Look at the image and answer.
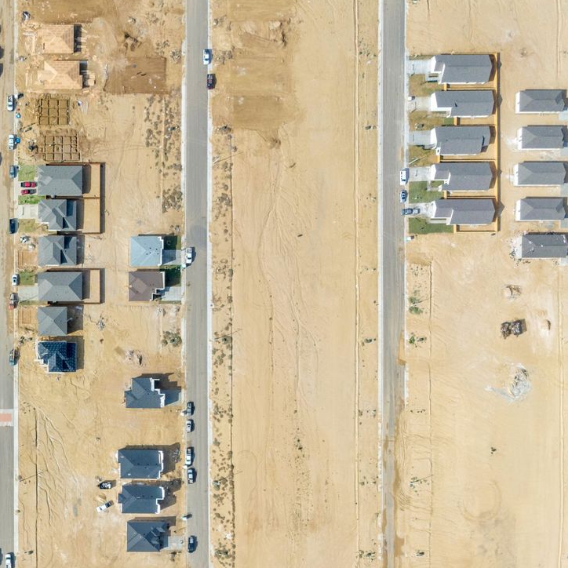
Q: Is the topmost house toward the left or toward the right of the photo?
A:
left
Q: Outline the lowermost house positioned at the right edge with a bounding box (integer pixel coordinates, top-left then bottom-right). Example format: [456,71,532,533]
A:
[517,233,568,258]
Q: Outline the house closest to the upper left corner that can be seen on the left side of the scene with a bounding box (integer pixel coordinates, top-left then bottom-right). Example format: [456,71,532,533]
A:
[39,24,75,54]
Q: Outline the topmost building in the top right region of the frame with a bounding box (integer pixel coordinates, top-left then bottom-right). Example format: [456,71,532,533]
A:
[429,54,496,84]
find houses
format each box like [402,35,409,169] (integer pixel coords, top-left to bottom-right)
[125,376,164,407]
[126,521,168,551]
[429,54,496,84]
[33,340,77,374]
[38,60,83,90]
[517,233,568,258]
[38,271,83,301]
[516,198,568,220]
[118,448,163,479]
[37,306,67,335]
[516,90,568,112]
[130,236,164,267]
[38,199,77,231]
[430,126,493,154]
[430,199,498,224]
[118,484,164,514]
[39,24,75,54]
[430,90,498,117]
[517,125,568,149]
[431,162,496,190]
[38,236,77,264]
[514,161,568,185]
[38,166,83,195]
